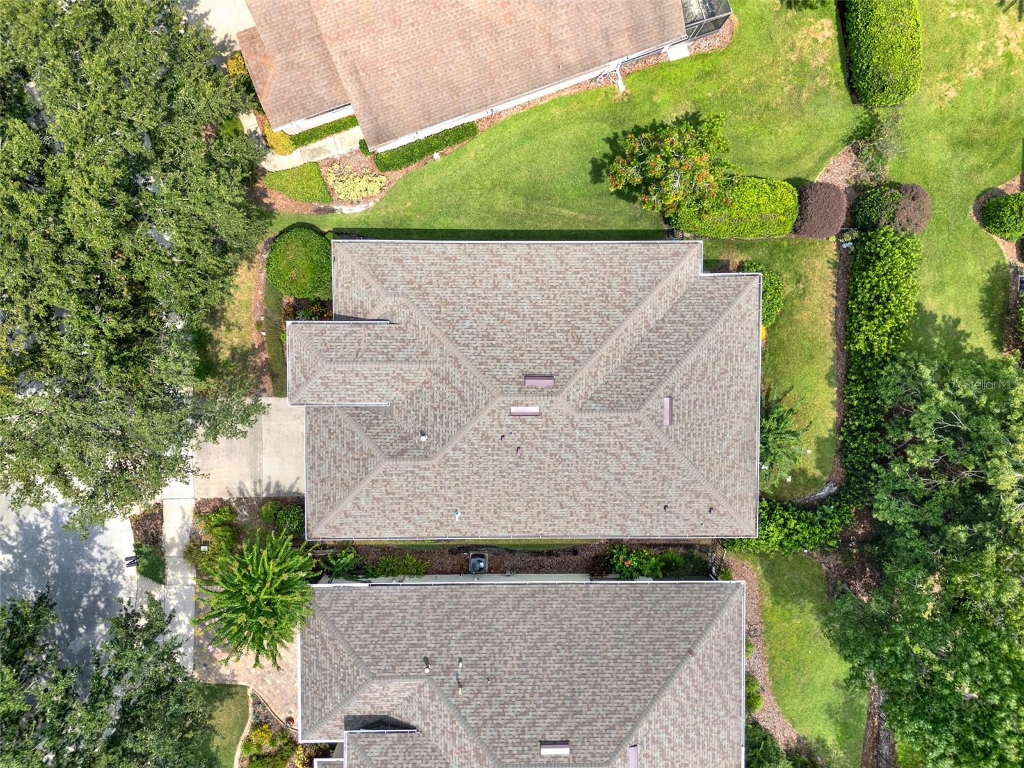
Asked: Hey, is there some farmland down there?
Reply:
No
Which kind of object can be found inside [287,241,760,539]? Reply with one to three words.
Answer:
house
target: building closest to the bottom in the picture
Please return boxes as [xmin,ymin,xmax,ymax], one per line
[299,574,744,768]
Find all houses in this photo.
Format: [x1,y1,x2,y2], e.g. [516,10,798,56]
[237,0,688,155]
[299,574,744,768]
[287,241,760,539]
